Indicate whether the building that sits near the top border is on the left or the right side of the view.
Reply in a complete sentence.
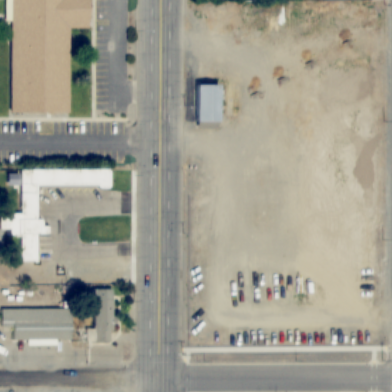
The building that sits near the top border sits on the left side.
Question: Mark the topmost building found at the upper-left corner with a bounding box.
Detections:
[9,0,92,114]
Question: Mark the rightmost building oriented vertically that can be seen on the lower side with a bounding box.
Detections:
[92,288,113,342]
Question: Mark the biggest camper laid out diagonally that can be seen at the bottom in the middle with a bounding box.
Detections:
[186,320,208,337]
